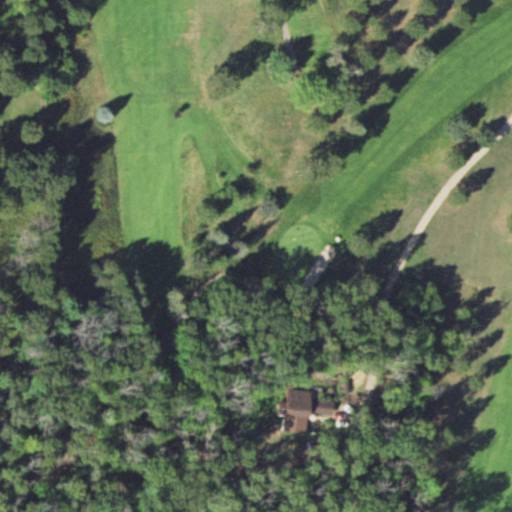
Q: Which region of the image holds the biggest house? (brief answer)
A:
bottom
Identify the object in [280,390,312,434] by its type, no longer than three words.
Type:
house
